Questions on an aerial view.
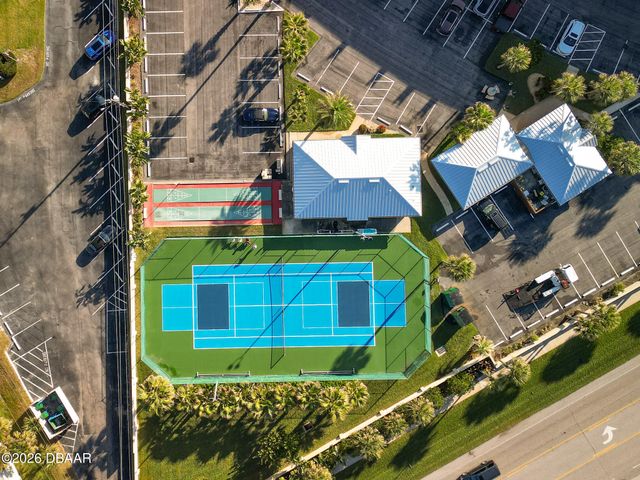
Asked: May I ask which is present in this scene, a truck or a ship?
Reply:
truck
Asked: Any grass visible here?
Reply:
Yes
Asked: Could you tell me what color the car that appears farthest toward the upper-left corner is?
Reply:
blue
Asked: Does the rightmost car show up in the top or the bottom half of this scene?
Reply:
top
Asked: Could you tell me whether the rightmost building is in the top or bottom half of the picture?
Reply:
top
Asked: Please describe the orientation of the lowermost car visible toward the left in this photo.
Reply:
on a diagonal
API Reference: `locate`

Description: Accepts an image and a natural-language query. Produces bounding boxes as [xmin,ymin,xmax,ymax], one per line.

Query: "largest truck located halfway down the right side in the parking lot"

[496,259,581,312]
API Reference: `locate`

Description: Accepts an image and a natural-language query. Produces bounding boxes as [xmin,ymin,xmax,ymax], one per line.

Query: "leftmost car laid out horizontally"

[243,107,279,124]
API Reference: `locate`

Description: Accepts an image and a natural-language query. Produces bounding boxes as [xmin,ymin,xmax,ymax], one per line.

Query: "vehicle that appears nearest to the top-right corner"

[556,19,584,56]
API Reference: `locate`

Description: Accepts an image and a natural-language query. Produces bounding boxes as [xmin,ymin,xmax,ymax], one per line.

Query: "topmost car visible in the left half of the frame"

[82,28,116,59]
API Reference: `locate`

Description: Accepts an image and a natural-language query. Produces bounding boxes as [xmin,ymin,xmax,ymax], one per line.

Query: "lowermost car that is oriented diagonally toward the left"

[86,222,118,254]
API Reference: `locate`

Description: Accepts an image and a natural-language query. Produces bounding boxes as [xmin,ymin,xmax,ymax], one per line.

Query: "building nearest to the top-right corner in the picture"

[516,104,612,206]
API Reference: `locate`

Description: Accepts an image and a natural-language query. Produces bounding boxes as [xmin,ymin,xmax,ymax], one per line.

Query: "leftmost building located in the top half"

[292,134,422,221]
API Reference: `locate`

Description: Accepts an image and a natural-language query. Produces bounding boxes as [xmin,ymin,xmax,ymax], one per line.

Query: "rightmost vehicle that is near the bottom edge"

[454,456,500,480]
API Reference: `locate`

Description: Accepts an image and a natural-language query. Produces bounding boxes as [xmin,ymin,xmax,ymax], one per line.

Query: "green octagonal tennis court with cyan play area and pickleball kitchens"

[146,235,425,376]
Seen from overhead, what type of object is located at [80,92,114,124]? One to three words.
car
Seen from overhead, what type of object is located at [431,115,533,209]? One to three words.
building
